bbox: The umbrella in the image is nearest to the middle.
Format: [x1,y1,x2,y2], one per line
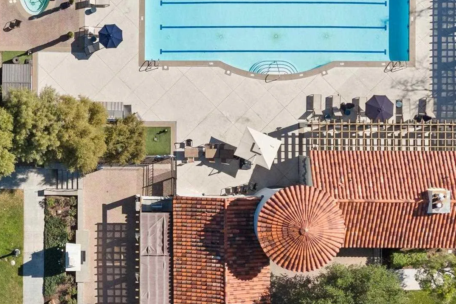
[234,127,281,172]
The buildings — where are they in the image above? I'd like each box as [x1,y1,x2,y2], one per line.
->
[2,63,34,109]
[173,150,456,304]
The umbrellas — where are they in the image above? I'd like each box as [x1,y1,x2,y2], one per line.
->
[98,25,122,48]
[234,127,281,172]
[365,95,393,122]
